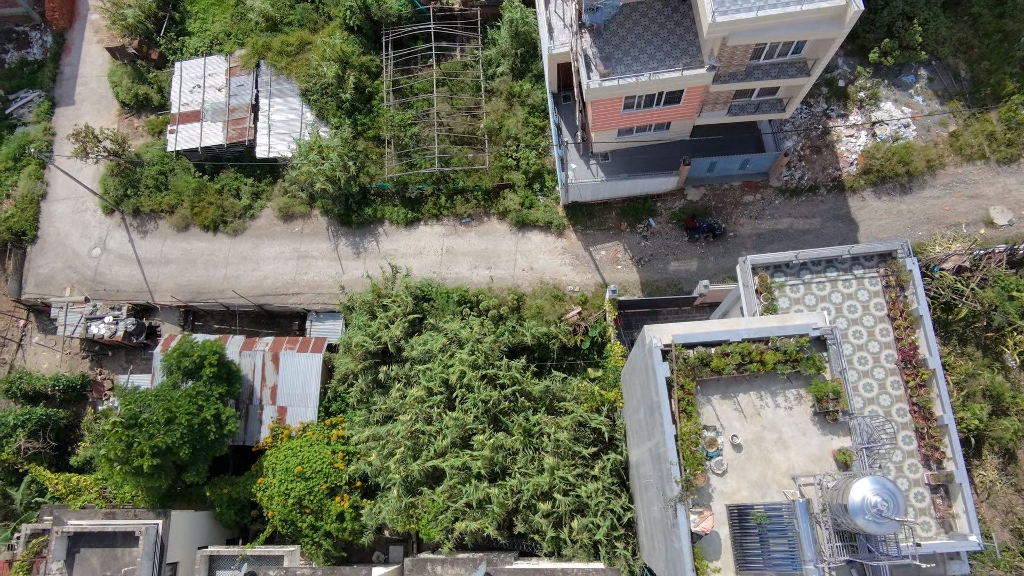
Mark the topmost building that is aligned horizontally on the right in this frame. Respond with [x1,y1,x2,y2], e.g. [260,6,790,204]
[538,0,862,151]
